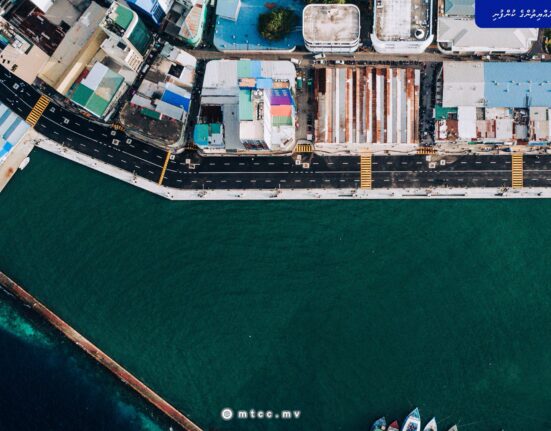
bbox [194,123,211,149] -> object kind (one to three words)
house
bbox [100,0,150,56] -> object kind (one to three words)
building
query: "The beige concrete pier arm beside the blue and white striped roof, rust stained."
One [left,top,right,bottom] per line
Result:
[0,133,38,197]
